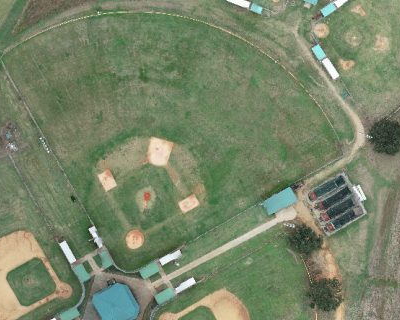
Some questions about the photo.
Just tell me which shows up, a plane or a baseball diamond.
baseball diamond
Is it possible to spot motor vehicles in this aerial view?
No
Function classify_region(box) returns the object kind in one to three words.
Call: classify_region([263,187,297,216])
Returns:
building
